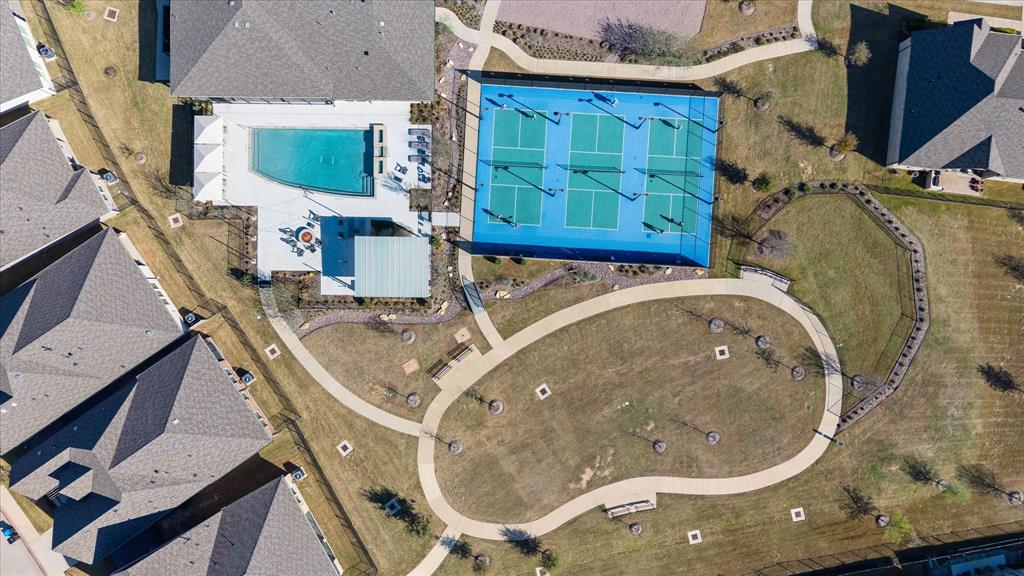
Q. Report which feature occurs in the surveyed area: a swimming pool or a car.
swimming pool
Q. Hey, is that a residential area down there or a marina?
residential area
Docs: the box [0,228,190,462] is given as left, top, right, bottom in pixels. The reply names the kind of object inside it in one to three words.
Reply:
house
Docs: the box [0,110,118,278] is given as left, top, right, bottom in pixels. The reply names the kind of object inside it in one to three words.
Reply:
house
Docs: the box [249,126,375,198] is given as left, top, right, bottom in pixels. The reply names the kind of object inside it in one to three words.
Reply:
swimming pool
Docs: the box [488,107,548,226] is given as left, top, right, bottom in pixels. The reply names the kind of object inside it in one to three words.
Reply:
sports court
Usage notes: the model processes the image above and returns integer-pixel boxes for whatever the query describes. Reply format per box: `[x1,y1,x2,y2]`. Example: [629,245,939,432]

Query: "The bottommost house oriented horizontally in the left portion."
[108,471,348,576]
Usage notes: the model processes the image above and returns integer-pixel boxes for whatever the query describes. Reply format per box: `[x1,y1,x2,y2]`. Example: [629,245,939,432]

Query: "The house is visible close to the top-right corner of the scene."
[888,19,1024,181]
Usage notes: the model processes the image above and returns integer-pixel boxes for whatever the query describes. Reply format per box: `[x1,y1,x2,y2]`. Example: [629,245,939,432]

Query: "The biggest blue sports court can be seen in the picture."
[471,84,719,266]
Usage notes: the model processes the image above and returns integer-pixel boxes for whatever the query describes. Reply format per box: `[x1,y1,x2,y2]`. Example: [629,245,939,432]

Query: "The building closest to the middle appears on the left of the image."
[349,234,429,297]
